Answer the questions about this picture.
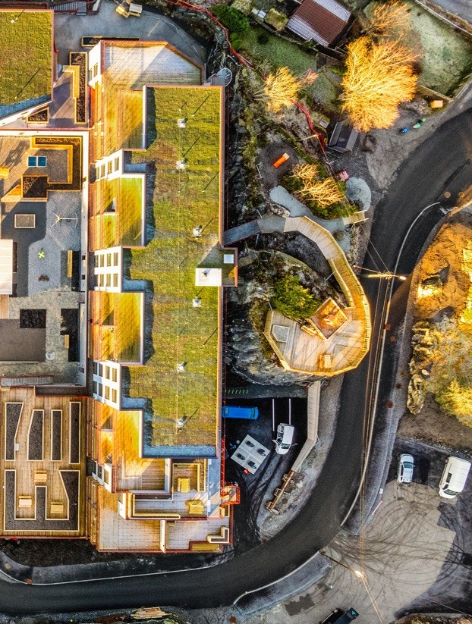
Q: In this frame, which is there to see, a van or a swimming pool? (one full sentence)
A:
This aerial view contains a van.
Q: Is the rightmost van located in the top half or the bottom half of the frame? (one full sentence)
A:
The rightmost van sits in the bottom half of the picture.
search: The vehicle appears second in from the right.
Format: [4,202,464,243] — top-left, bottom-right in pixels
[395,453,415,484]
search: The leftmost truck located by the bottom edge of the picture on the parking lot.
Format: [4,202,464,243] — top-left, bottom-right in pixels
[315,603,358,624]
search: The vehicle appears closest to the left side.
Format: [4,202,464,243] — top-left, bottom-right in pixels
[221,403,257,420]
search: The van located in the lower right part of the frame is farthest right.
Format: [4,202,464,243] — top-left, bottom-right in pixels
[432,453,472,501]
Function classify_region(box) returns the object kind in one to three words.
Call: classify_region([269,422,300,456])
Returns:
van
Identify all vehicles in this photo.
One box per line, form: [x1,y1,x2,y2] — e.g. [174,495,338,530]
[432,453,472,501]
[315,603,358,624]
[395,453,415,484]
[269,422,300,456]
[221,403,257,420]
